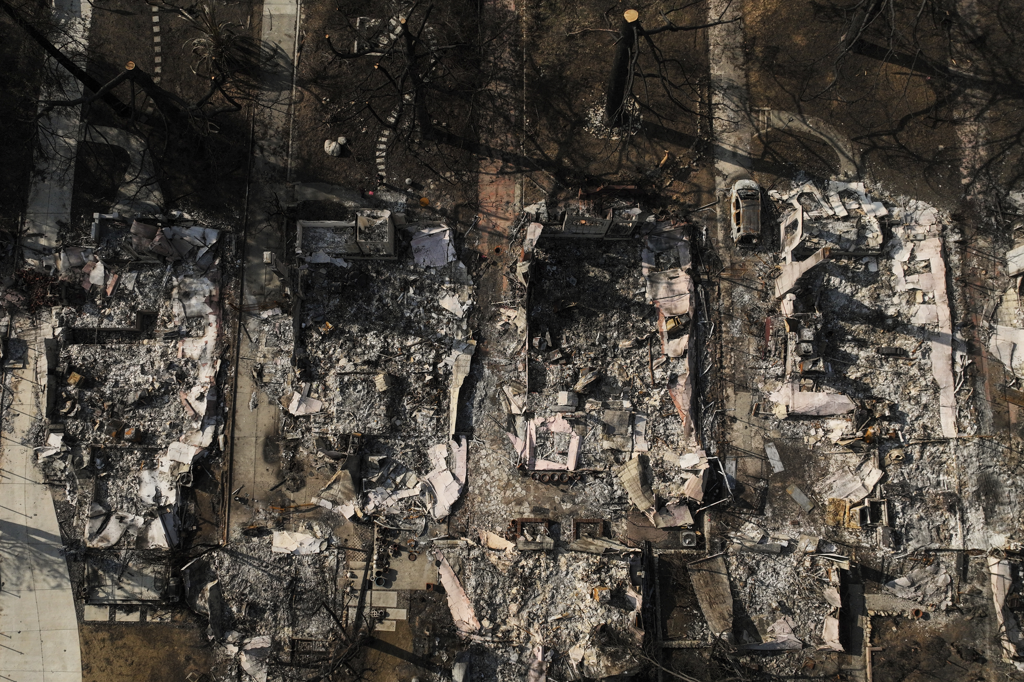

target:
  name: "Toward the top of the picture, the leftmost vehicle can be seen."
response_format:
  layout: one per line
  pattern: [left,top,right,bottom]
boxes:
[731,181,764,249]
